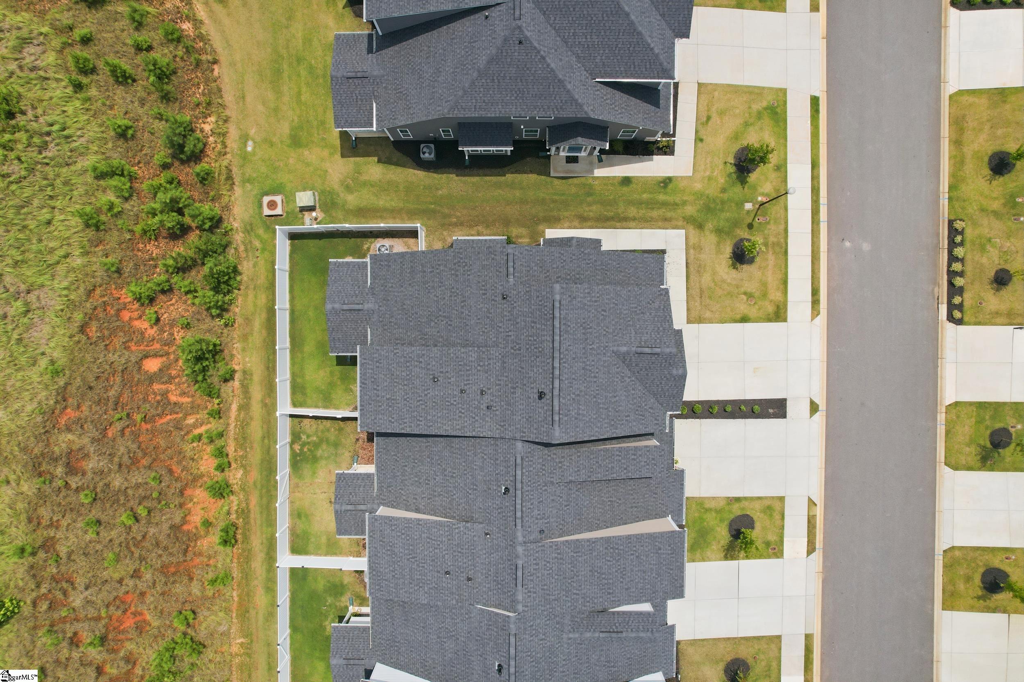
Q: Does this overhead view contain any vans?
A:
No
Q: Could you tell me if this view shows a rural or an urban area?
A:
urban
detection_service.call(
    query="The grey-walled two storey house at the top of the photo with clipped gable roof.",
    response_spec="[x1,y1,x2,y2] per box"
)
[331,0,693,160]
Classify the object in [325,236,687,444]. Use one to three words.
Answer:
house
